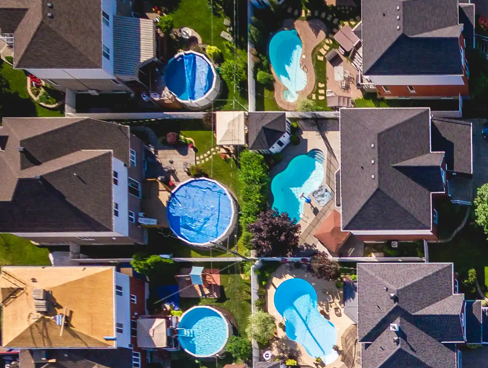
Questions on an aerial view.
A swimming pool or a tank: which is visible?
swimming pool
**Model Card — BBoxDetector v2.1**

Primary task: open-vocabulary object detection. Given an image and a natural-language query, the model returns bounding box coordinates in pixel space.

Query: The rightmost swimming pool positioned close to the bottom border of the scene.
[271,275,341,361]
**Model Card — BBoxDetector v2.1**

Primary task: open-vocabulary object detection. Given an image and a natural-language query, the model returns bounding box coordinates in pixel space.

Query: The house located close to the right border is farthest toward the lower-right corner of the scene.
[356,262,483,368]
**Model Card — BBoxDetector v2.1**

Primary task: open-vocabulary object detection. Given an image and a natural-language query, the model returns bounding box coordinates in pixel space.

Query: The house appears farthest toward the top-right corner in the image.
[361,0,477,97]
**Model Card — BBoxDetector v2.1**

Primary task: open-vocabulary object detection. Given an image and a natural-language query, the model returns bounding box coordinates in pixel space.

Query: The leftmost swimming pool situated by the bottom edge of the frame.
[175,306,233,356]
